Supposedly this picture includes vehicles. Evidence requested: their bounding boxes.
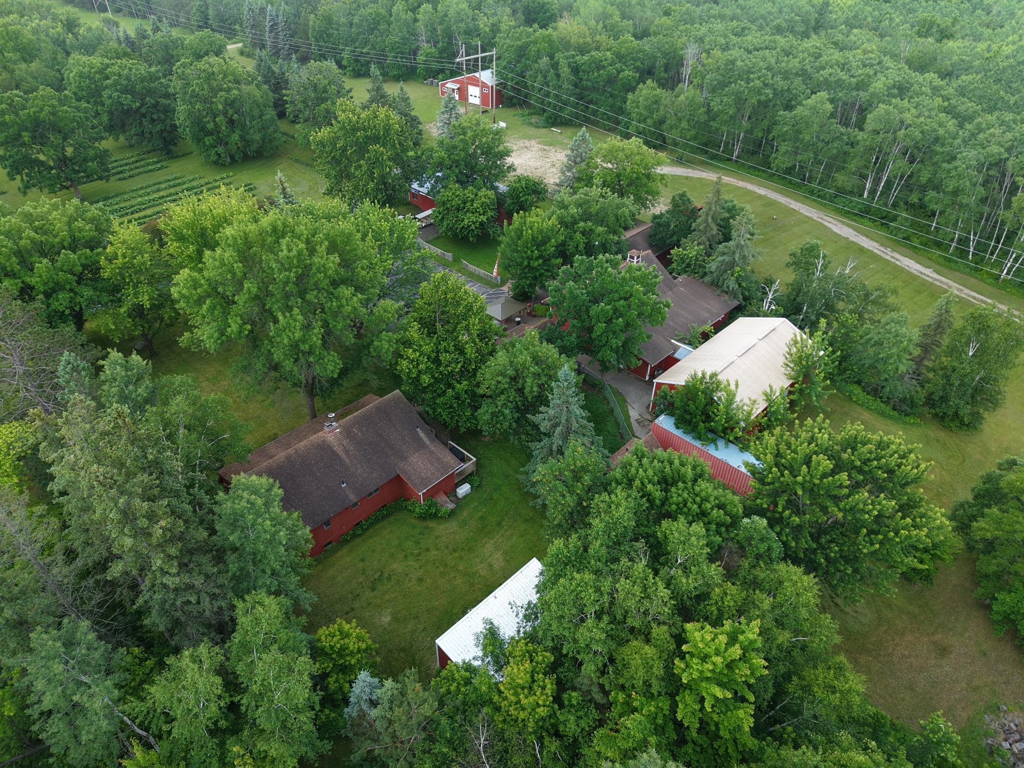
[394,206,411,225]
[413,208,438,230]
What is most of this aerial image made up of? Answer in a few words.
trees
